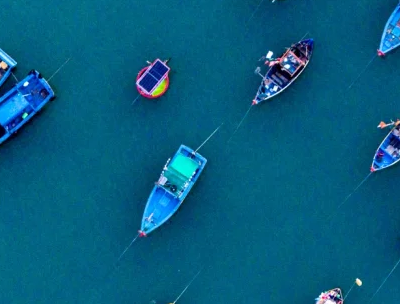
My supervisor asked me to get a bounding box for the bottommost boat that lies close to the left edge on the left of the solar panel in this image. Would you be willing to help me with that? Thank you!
[0,70,59,145]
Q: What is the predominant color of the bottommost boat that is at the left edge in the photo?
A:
blue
